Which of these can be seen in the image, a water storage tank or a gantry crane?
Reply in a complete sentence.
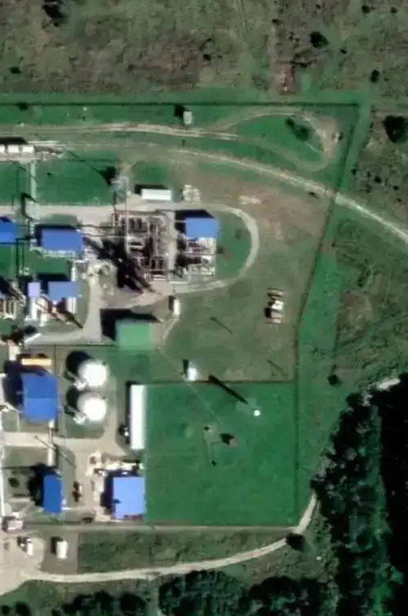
The one in the frame is a water storage tank.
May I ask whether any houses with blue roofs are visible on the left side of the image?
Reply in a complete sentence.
Yes, a house with a blue roof can be seen on the left side of the image.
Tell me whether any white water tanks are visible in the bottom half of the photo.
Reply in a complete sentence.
Yes, there is a white water tank in the bottom half of the photo.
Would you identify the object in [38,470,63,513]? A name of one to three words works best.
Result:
building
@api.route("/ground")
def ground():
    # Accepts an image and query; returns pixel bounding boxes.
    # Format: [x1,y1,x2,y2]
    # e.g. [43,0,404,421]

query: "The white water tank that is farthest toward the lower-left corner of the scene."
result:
[66,390,107,424]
